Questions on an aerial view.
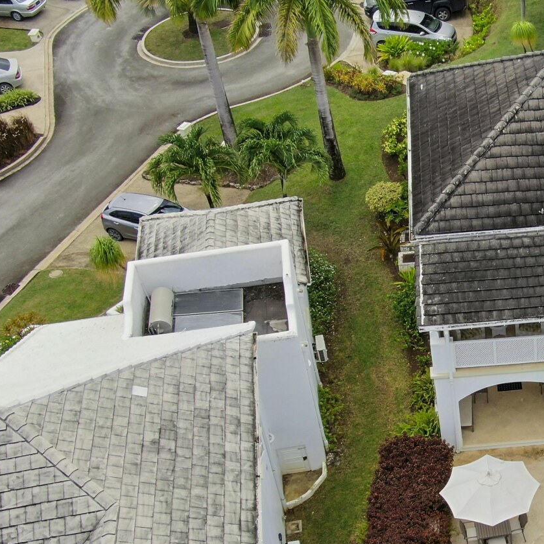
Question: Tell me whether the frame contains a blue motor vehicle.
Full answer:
No, no blue motor vehicle can be seen from above.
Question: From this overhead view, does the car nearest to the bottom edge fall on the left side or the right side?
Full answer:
The car nearest to the bottom edge is on the left side of the image.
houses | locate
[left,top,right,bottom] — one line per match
[403,49,544,452]
[0,194,339,544]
